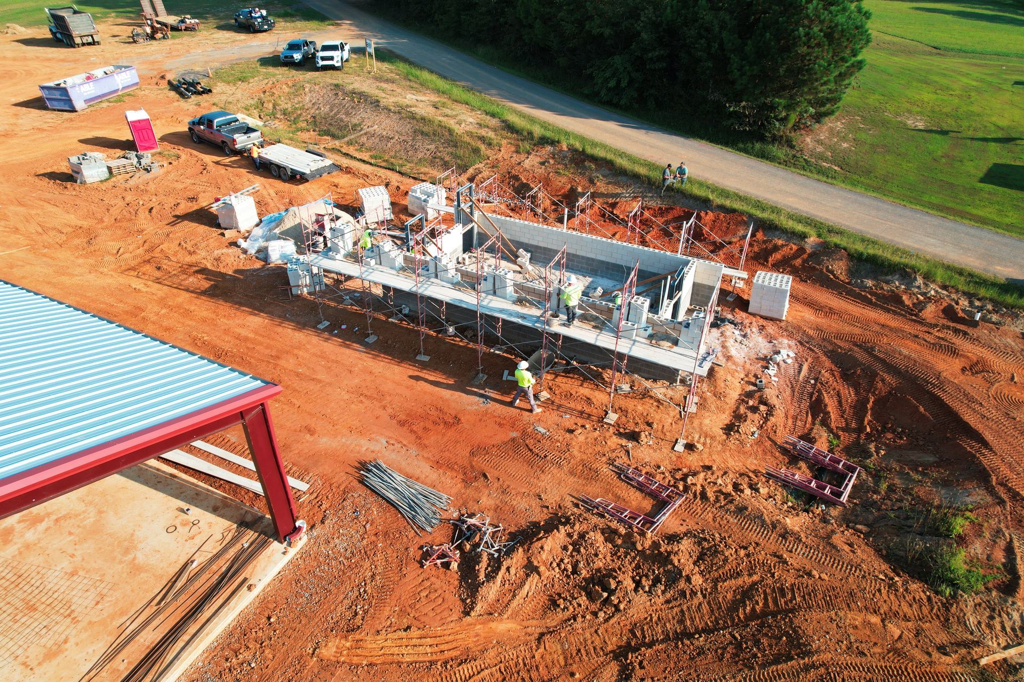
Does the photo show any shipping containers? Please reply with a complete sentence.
Yes, a shipping container appears in the view.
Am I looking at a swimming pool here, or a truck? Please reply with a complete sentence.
The one in the frame is a truck.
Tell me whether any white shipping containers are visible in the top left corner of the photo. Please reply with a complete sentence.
Yes, the scene does show a white shipping container in the top left corner of the photo.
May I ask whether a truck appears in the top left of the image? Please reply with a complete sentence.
Yes, looking in the top left of the image, one can make out a truck.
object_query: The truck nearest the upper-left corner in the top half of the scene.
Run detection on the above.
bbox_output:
[35,0,103,44]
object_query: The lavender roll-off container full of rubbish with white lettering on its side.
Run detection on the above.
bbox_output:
[37,63,138,112]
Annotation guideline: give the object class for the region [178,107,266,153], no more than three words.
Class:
truck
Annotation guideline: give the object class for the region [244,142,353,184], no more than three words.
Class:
trailer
